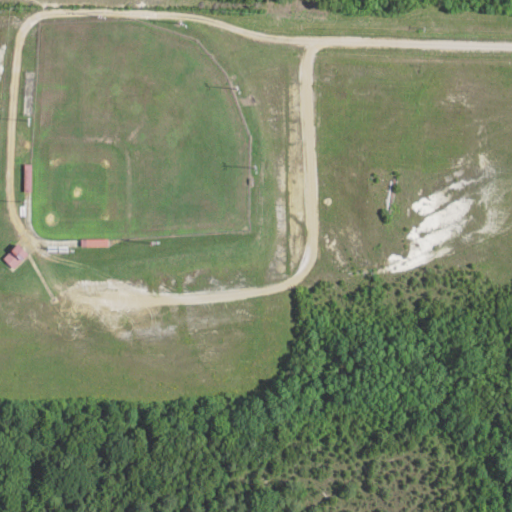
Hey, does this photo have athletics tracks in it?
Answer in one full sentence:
No, the frame has no athletics track in it.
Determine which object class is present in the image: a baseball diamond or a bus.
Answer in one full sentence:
Visible in the photo is a baseball diamond.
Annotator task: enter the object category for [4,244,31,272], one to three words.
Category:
building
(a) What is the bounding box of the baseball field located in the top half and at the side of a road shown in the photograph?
[32,19,250,242]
